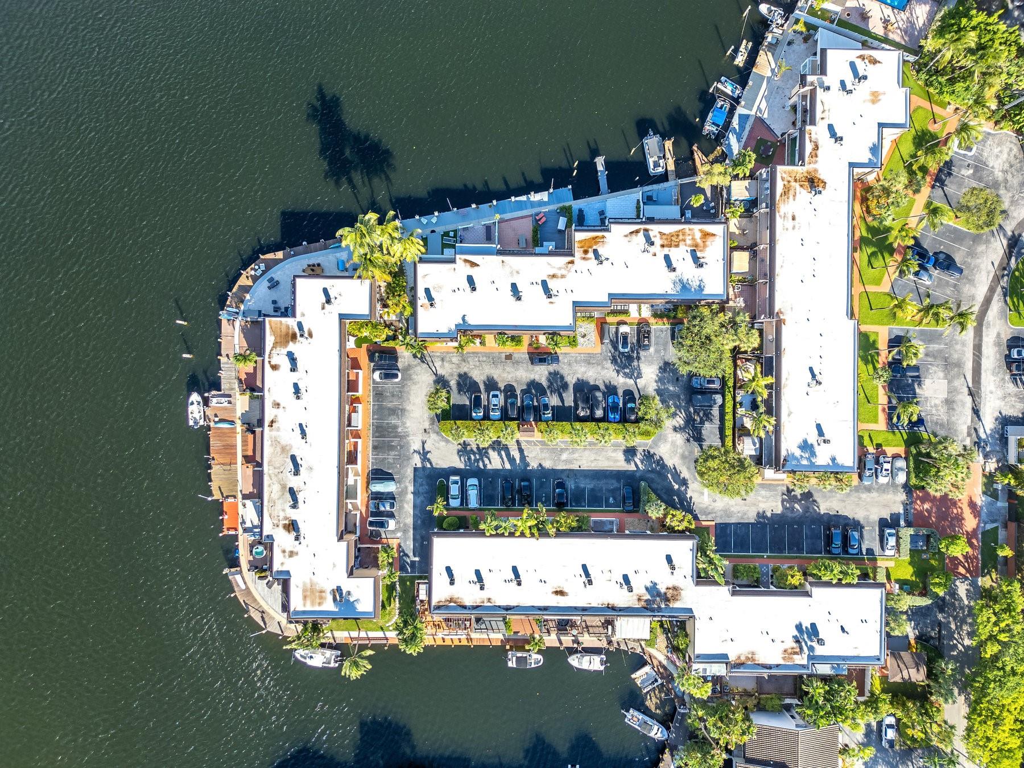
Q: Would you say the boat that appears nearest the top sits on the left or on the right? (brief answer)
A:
right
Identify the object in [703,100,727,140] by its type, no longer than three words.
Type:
boat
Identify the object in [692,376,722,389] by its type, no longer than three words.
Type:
vehicle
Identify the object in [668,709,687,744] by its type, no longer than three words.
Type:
pier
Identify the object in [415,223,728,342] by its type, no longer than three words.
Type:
building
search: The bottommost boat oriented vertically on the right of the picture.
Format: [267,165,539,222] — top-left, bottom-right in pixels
[645,132,665,175]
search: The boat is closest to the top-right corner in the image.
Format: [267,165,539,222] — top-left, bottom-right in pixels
[755,4,788,24]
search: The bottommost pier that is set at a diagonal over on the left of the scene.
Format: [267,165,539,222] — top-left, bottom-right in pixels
[225,567,296,639]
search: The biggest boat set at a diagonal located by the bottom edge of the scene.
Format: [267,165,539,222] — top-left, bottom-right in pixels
[621,706,666,738]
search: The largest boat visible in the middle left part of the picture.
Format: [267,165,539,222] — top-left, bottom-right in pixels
[188,391,203,431]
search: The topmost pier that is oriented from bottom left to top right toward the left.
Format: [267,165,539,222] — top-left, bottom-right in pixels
[221,236,344,319]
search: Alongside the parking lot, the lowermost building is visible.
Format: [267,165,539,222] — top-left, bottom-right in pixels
[430,528,885,675]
